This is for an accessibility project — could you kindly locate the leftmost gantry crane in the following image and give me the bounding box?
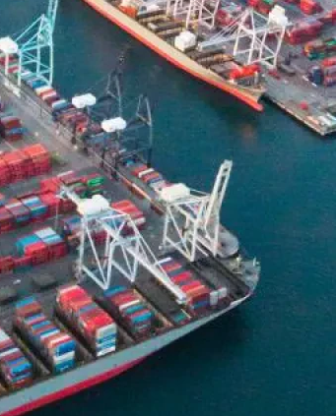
[0,0,61,94]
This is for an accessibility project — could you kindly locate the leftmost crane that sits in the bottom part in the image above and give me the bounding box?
[65,195,194,308]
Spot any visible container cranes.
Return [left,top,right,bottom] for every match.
[0,0,61,94]
[155,157,238,272]
[135,0,227,36]
[187,6,305,74]
[110,71,181,189]
[79,41,149,161]
[167,0,209,28]
[65,195,194,308]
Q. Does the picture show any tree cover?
No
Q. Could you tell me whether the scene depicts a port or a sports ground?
port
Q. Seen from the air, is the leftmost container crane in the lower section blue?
No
